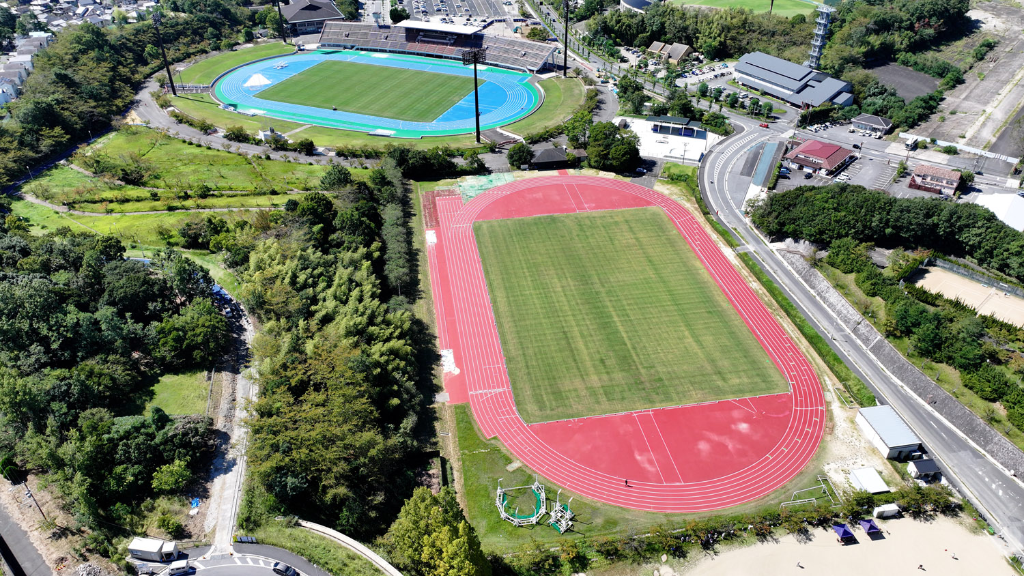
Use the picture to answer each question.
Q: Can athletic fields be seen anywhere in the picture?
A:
Yes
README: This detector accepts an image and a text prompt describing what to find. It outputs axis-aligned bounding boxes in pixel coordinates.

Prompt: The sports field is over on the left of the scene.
[254,60,485,122]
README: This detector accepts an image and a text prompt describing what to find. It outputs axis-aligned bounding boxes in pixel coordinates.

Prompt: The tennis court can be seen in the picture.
[904,266,1024,326]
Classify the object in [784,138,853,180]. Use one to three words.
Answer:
building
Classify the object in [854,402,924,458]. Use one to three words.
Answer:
shed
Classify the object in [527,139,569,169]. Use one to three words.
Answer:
building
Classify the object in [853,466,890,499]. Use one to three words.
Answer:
shed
